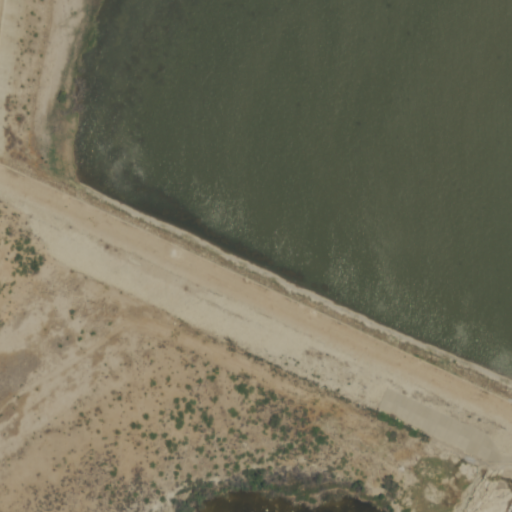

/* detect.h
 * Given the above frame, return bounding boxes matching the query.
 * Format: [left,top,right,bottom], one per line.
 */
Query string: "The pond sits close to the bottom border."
[199,490,381,512]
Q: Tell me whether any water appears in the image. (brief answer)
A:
Yes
